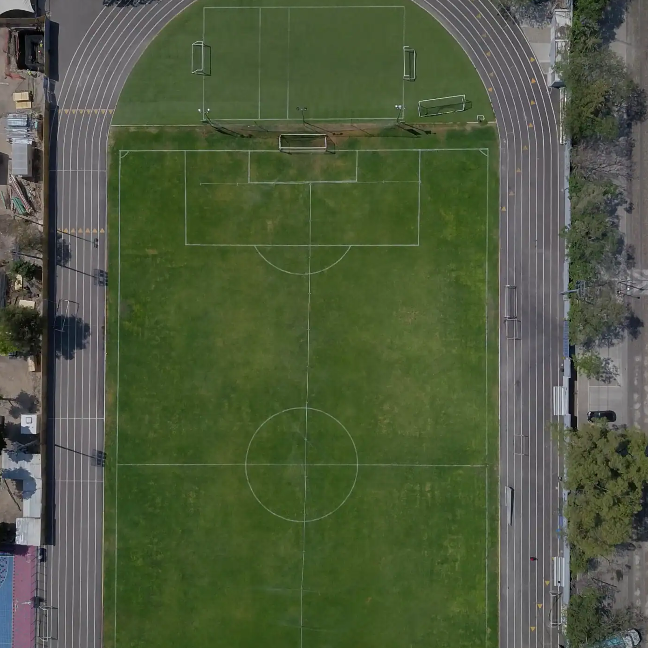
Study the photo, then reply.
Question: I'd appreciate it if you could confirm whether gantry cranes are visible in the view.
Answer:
No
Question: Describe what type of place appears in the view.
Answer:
sports ground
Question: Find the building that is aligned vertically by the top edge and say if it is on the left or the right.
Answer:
right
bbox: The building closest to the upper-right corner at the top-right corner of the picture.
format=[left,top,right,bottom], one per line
[549,9,571,84]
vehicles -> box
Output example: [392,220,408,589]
[584,625,639,648]
[587,410,617,424]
